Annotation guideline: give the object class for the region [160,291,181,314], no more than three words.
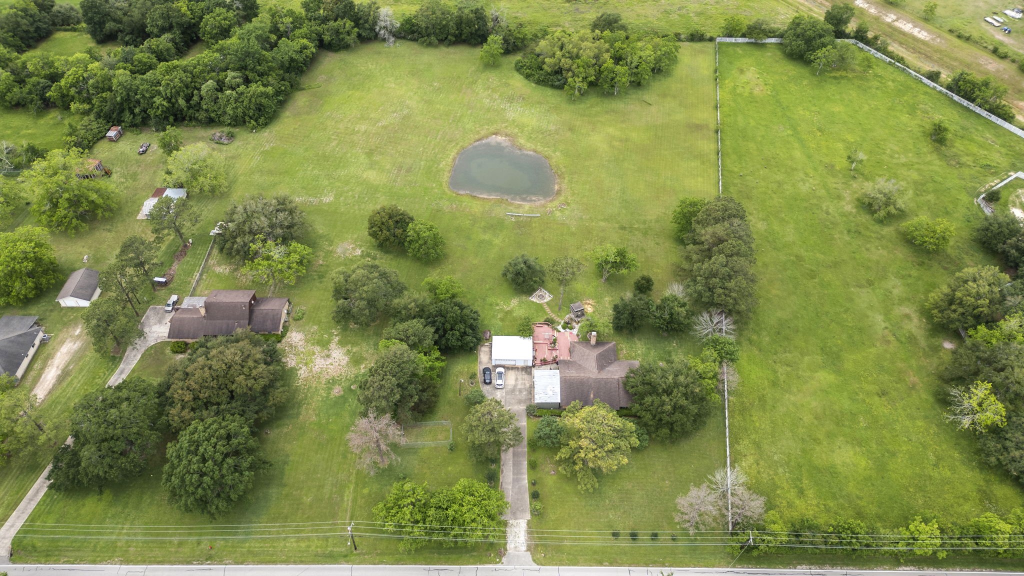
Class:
truck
